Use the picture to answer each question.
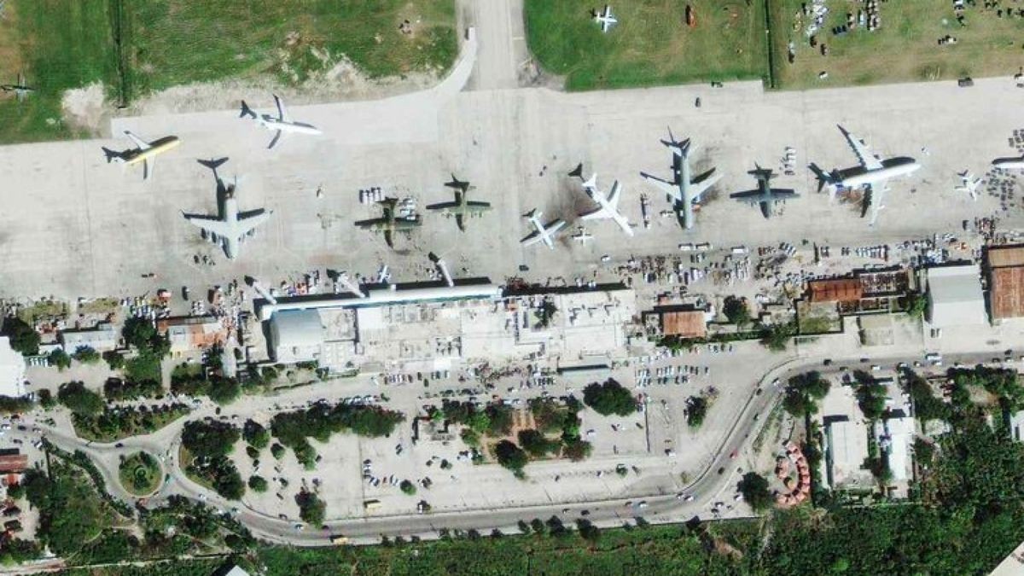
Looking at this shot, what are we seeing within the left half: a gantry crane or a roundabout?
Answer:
roundabout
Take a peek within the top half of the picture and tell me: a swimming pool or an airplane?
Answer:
airplane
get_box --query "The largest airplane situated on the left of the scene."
[191,169,271,258]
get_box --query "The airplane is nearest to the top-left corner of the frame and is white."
[112,130,178,180]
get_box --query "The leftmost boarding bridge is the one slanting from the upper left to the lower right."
[250,279,278,304]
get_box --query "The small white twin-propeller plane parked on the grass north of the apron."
[597,6,617,33]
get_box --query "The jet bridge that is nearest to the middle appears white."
[434,257,456,287]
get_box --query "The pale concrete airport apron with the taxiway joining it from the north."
[0,0,1024,307]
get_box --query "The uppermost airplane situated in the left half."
[253,97,321,150]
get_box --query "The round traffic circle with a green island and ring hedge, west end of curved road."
[105,439,175,509]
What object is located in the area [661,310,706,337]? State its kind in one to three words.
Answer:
building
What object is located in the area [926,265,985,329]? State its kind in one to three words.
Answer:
hangar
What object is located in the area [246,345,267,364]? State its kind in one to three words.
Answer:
house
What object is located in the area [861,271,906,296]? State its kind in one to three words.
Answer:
building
